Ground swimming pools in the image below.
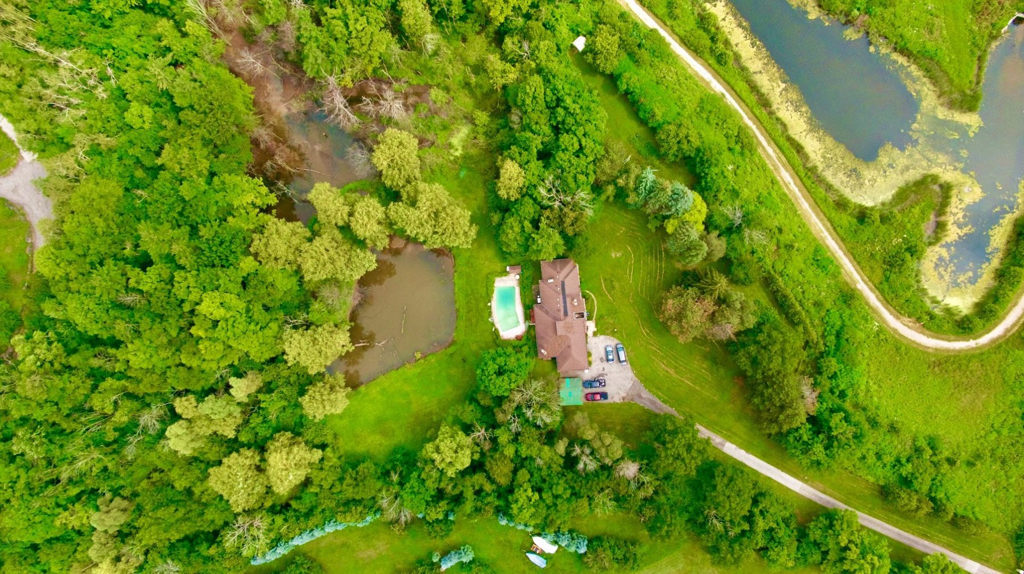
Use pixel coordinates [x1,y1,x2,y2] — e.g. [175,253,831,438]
[491,274,526,339]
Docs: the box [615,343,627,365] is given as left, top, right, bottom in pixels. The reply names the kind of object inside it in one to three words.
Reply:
vehicle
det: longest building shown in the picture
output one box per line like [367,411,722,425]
[533,258,590,372]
